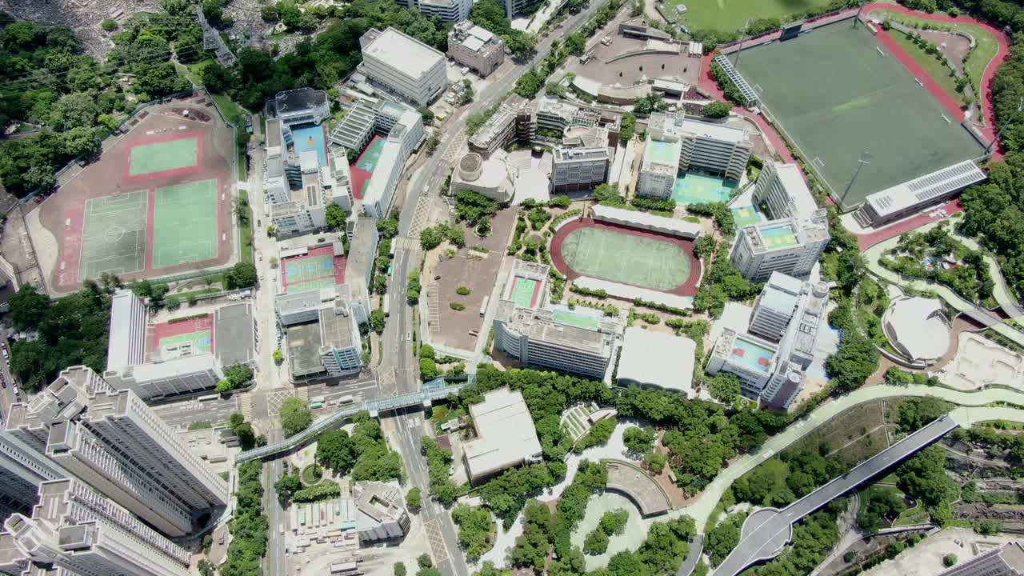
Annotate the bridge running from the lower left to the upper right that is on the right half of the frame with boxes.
[713,410,969,576]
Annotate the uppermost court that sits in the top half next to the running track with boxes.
[670,170,739,205]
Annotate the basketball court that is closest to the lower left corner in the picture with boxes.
[153,313,214,362]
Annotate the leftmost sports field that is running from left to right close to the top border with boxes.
[669,0,844,43]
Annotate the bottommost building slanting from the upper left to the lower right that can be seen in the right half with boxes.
[601,456,672,515]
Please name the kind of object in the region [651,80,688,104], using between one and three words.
building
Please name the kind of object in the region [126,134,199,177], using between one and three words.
basketball court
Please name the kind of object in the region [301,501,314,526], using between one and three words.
vehicle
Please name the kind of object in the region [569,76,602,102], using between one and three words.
building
